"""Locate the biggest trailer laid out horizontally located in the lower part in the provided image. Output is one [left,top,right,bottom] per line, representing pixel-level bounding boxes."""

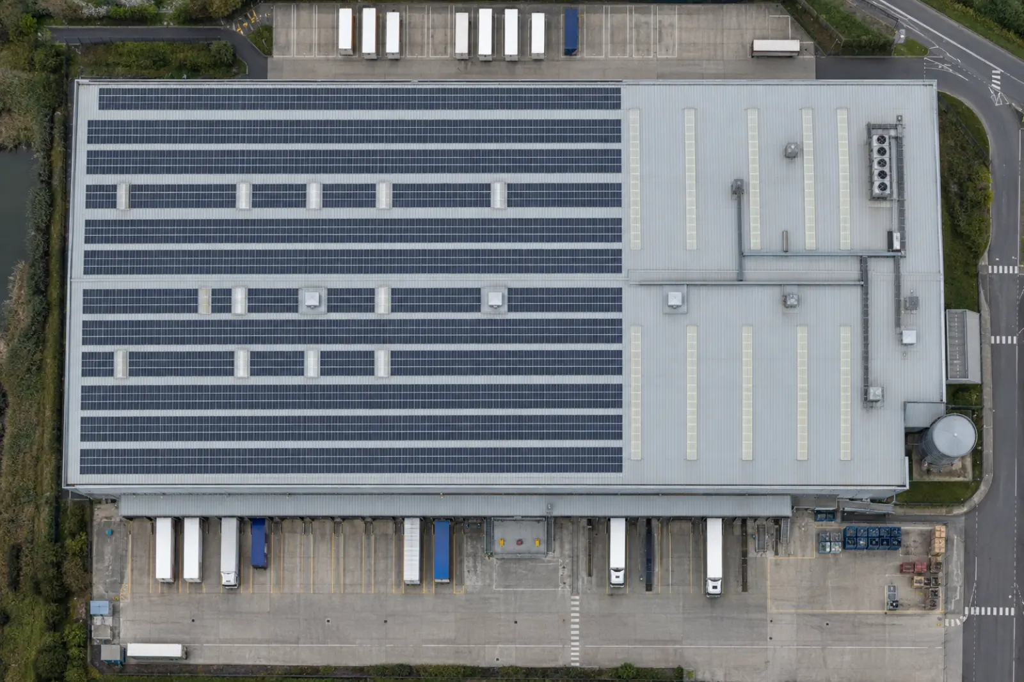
[127,644,189,659]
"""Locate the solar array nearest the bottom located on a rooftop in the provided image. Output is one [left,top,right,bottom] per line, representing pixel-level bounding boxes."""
[80,449,622,474]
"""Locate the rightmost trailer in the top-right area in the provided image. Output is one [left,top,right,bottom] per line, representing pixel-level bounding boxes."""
[752,39,800,56]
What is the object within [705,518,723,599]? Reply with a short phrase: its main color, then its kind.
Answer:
white vehicle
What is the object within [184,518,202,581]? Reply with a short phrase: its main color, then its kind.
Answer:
white trailer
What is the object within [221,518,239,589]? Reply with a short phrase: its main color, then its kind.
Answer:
white vehicle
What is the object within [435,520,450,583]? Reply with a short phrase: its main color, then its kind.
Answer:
blue trailer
